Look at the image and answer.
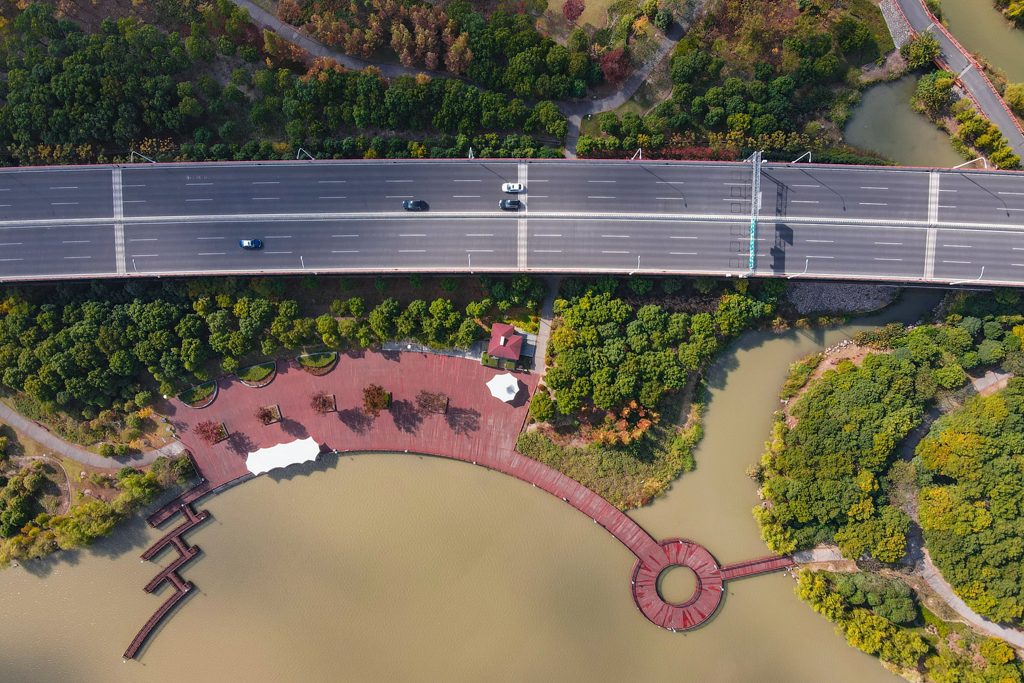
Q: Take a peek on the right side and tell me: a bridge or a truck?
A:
bridge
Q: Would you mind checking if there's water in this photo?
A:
Yes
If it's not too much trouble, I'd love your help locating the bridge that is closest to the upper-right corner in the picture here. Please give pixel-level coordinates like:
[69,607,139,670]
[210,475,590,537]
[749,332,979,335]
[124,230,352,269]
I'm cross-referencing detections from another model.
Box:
[918,19,989,91]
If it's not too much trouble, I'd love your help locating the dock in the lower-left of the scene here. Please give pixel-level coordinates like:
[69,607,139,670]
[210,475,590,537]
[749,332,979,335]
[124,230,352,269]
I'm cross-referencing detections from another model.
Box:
[122,482,214,660]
